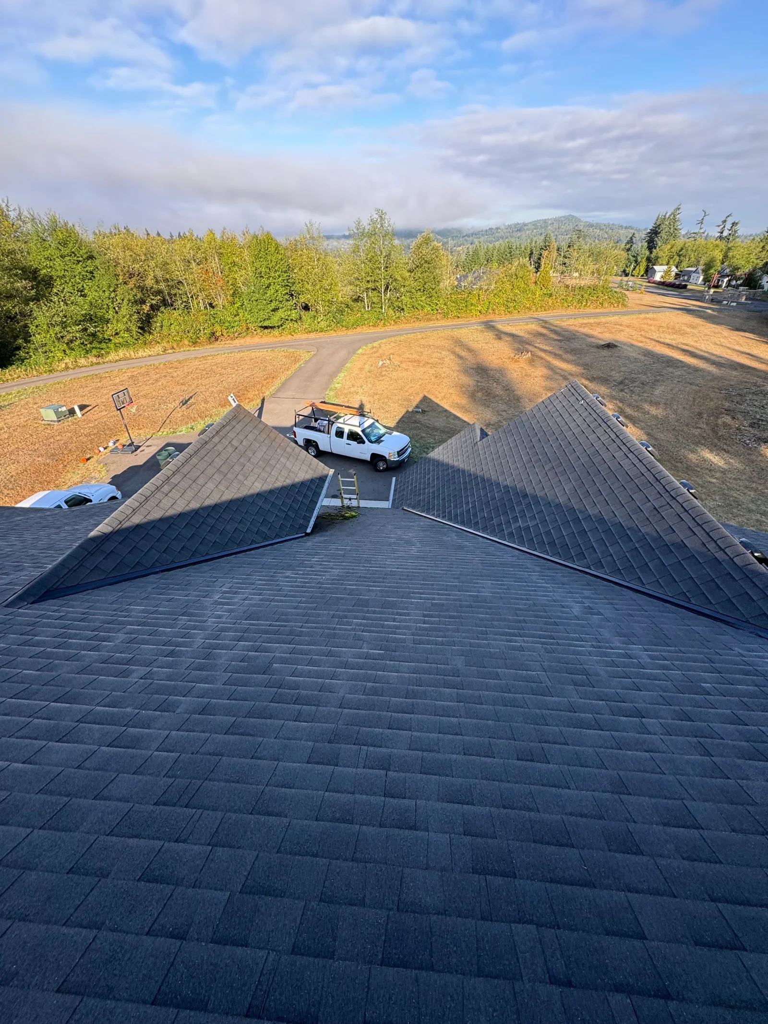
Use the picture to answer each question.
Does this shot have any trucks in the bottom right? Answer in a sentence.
No, in the bottom right there is no truck.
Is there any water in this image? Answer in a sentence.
No, there is no water in the image.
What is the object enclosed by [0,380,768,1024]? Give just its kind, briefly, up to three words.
house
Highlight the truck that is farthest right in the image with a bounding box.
[284,405,416,472]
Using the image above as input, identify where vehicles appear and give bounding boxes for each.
[15,483,129,508]
[284,405,416,472]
